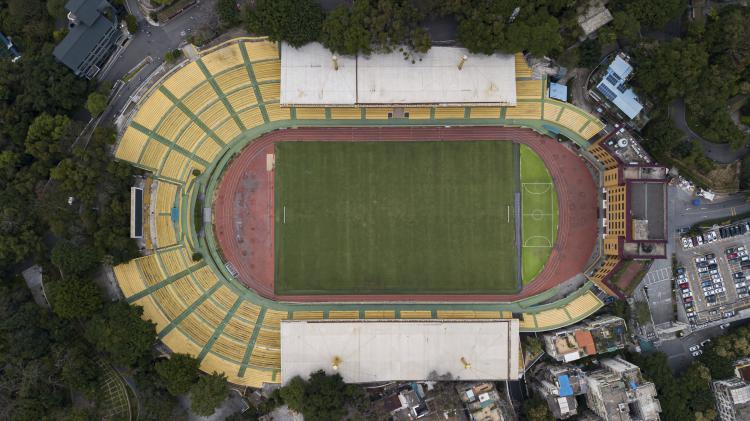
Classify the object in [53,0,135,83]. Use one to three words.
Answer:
building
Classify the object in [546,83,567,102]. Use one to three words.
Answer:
shed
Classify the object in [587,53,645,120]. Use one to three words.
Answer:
house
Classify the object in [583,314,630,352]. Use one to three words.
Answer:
house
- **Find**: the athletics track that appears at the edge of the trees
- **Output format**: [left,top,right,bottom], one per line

[214,126,597,303]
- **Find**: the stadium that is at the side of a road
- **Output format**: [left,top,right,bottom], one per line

[113,35,612,388]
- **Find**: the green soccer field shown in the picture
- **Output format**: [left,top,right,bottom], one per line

[274,141,521,295]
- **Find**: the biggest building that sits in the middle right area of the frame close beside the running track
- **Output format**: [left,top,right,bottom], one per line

[589,122,667,302]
